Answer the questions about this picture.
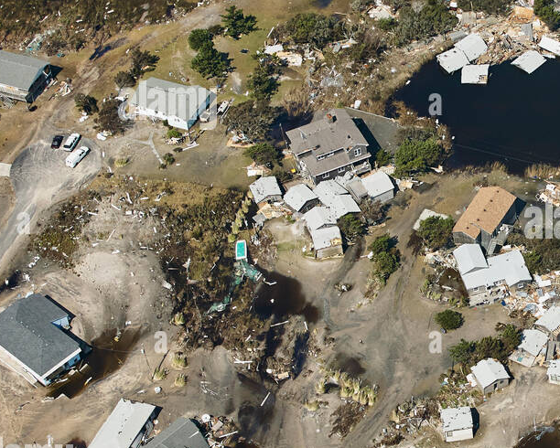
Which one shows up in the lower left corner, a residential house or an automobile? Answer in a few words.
residential house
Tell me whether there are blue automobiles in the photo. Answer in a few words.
No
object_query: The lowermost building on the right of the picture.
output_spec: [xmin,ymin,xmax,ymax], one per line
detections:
[443,405,474,441]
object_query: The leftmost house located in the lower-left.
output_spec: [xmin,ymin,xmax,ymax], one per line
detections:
[0,294,89,393]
